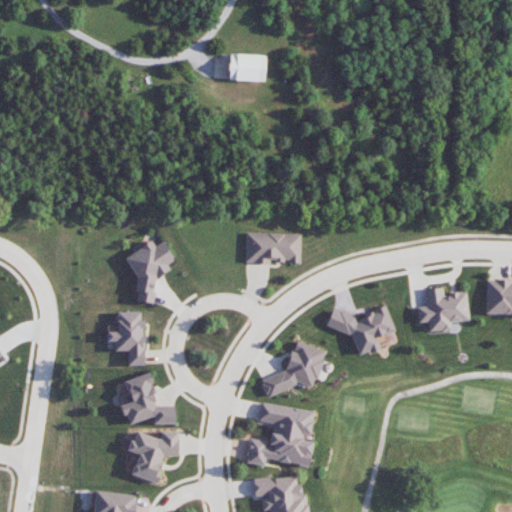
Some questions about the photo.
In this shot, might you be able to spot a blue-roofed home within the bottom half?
No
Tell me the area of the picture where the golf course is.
bottom right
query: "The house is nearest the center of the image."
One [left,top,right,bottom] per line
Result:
[246,233,302,265]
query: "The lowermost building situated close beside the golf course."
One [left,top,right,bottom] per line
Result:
[249,476,310,512]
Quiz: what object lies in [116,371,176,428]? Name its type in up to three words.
house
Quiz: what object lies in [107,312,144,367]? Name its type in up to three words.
house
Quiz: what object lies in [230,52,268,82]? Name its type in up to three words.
barn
